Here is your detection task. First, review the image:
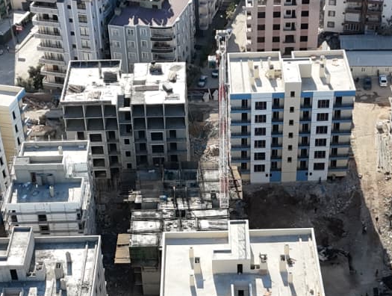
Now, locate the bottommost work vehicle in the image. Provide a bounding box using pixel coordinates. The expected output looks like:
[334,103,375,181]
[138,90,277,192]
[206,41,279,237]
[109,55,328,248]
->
[320,242,357,260]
